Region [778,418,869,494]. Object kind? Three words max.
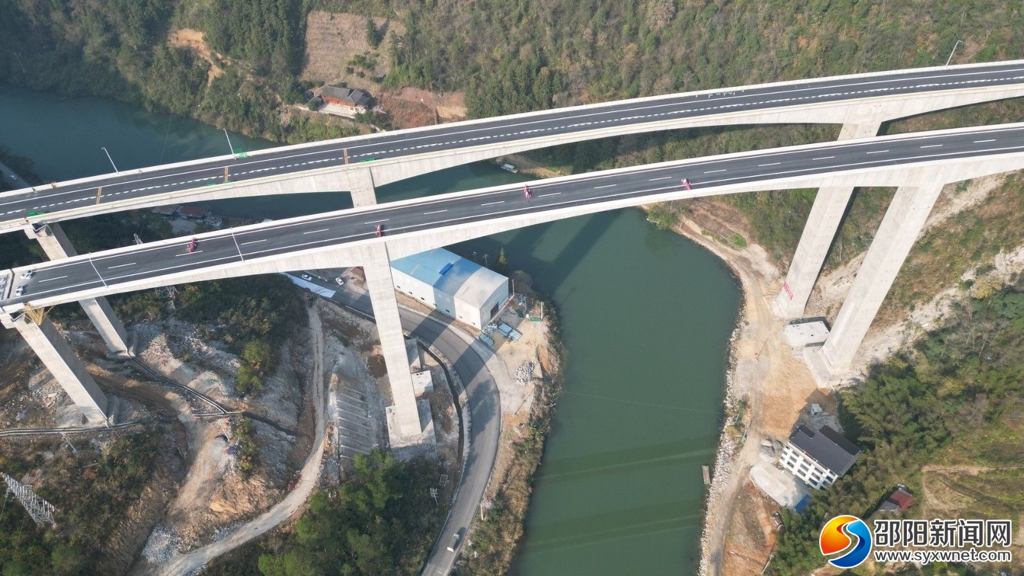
building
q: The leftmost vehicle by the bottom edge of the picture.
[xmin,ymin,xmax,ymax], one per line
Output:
[446,527,463,556]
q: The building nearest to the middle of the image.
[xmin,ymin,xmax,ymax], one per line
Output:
[392,247,508,329]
